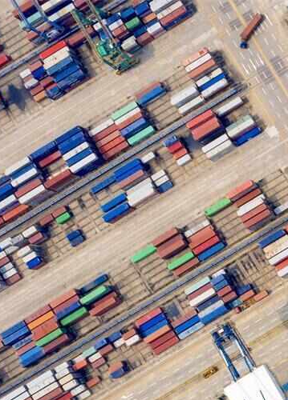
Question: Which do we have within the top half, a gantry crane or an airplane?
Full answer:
Visible within the top half is a gantry crane.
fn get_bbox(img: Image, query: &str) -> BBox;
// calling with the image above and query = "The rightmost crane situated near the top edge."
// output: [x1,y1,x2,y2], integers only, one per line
[80,0,146,62]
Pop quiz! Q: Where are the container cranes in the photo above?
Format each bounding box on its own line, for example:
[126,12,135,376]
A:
[80,0,146,62]
[207,327,287,400]
[5,0,66,46]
